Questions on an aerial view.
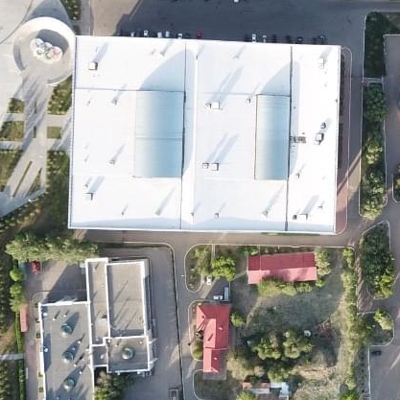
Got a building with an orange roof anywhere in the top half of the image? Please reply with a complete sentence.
No, I can find no building with an orange roof in the top half of the image.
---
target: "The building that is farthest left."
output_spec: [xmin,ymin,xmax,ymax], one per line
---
[38,255,158,400]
